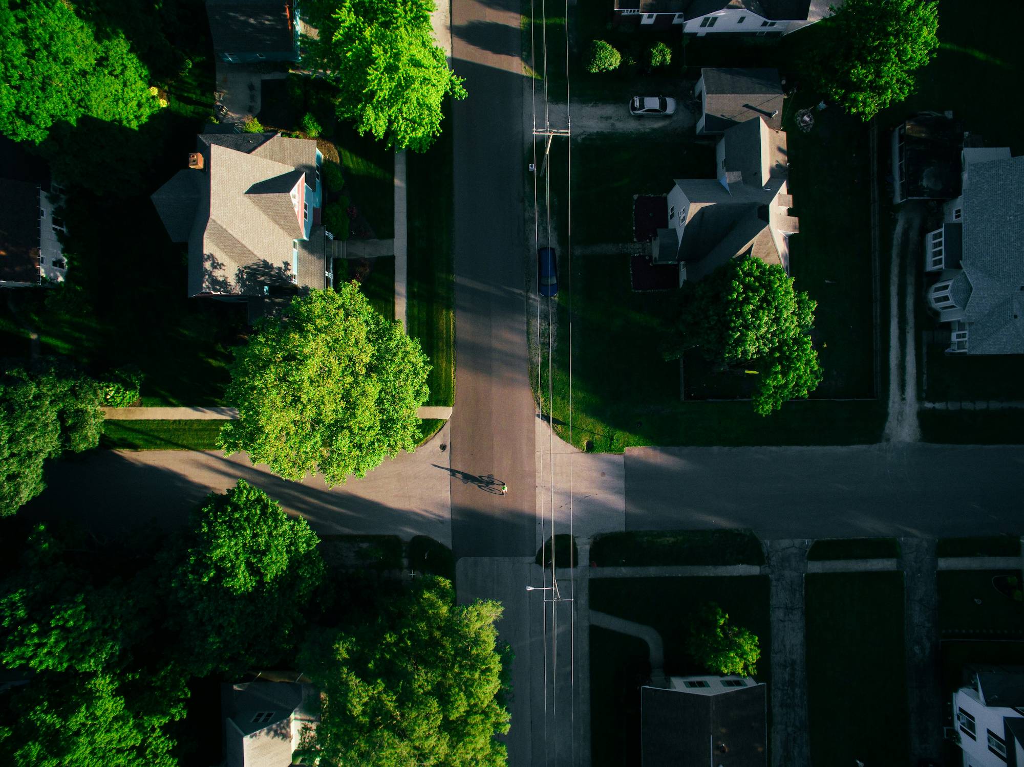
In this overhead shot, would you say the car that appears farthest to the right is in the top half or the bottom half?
top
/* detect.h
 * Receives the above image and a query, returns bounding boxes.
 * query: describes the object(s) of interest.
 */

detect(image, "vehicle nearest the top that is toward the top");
[630,93,677,118]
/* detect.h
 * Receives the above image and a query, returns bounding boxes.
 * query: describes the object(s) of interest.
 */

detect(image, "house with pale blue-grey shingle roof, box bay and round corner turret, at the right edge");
[928,147,1024,354]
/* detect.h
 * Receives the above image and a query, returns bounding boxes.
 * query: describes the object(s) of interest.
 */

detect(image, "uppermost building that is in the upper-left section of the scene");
[212,0,297,61]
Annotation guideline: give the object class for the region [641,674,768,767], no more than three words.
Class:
house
